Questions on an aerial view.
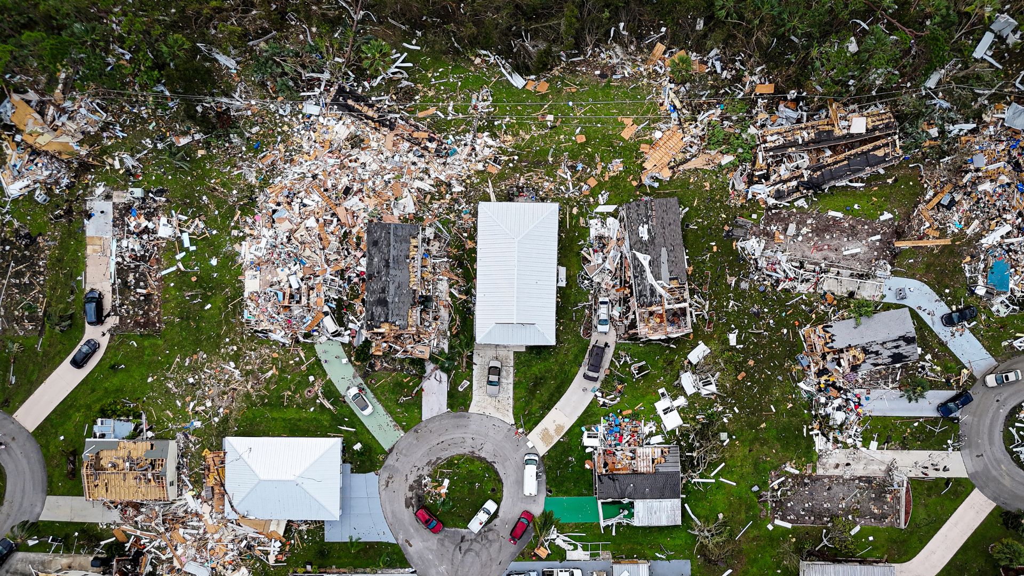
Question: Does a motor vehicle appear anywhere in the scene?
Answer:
Yes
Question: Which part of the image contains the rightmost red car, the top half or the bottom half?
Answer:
bottom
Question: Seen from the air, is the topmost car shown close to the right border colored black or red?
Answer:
black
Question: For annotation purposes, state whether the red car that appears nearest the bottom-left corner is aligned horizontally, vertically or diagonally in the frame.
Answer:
diagonally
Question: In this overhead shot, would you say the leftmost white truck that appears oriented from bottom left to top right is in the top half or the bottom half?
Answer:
bottom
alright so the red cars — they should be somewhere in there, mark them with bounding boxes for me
[507,511,532,550]
[412,505,444,537]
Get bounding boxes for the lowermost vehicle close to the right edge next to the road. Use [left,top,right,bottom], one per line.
[938,390,980,418]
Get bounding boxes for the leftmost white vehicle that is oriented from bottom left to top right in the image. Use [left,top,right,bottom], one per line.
[466,500,498,537]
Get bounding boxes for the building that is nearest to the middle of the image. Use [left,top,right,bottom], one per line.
[474,201,559,346]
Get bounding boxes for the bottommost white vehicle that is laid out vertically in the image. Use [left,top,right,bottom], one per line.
[522,454,540,500]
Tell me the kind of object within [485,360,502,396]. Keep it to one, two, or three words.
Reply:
car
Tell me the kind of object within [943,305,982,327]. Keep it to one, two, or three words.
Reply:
car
